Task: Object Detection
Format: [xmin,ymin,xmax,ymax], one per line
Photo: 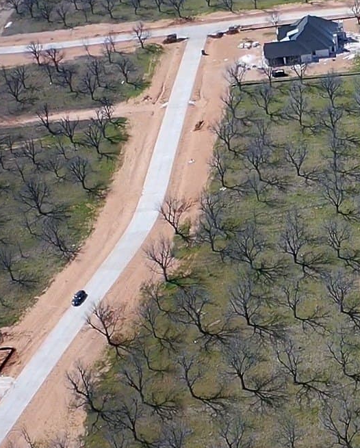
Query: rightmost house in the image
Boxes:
[267,12,349,66]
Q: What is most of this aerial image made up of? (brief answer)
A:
grass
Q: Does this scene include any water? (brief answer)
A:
No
